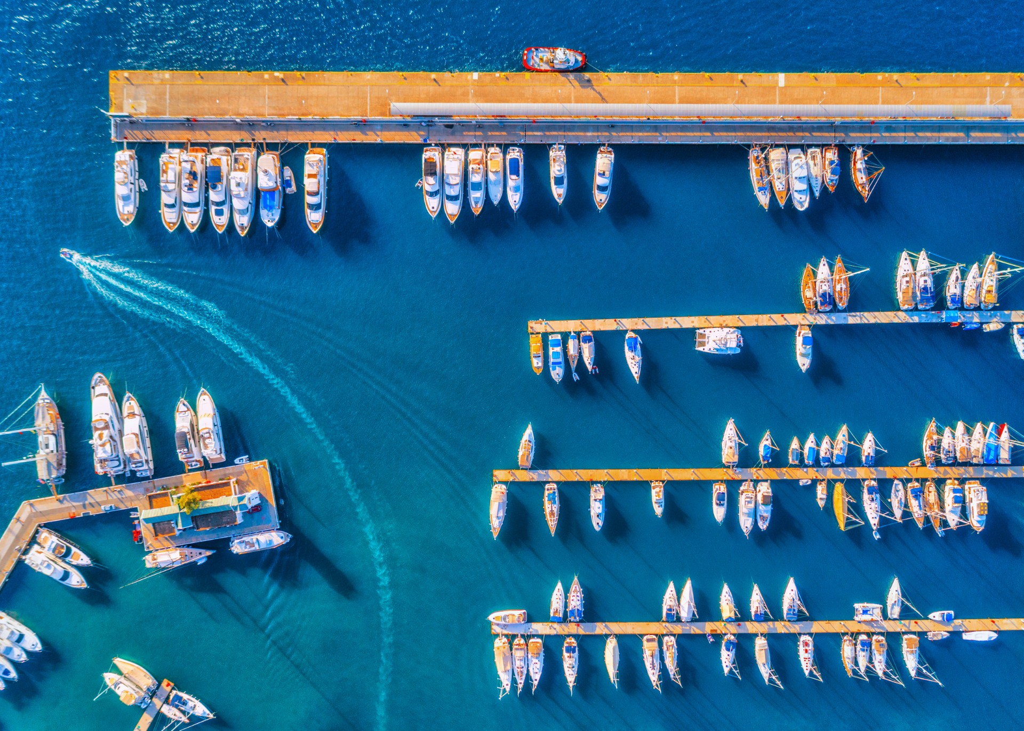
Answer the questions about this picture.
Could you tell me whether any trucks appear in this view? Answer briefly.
No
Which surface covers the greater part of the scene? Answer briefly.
water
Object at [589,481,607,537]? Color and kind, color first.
white boat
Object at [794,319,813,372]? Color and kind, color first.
white boat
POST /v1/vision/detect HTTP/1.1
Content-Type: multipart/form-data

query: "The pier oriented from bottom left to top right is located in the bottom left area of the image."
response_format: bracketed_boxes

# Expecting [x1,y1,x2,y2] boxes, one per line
[134,678,175,731]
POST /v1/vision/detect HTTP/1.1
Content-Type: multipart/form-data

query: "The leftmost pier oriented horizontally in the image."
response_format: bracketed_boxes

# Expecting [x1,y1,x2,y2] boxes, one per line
[0,460,281,593]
